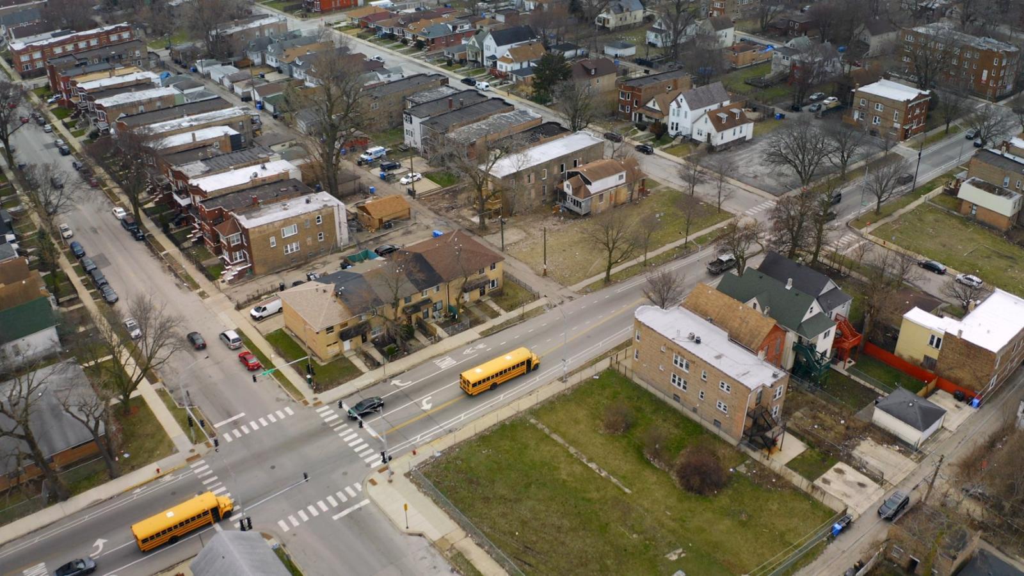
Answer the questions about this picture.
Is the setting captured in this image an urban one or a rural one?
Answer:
urban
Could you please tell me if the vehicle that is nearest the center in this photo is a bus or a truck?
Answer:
bus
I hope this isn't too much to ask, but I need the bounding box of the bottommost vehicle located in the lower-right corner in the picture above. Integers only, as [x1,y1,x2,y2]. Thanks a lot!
[877,479,911,517]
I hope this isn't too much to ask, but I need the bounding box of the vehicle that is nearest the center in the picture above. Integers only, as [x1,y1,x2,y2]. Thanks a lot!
[461,350,546,403]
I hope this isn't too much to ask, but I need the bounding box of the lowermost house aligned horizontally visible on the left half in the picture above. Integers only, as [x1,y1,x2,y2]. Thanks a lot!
[181,521,302,576]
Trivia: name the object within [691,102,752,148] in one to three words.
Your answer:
house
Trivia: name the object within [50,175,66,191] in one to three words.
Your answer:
car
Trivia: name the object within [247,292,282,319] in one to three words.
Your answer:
vehicle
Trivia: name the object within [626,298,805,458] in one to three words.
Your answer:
building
